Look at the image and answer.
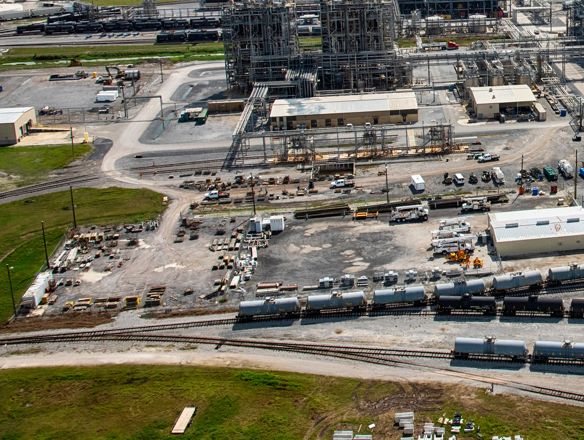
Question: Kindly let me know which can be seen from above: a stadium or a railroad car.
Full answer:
It is a railroad car that can be seen here.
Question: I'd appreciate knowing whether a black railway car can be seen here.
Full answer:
Yes, a black railway car appears in the view.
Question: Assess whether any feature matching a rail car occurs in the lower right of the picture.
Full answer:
Yes, a rail car is visible in the lower right of the picture.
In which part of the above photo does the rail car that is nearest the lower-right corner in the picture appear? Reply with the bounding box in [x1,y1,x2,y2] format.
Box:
[528,329,584,364]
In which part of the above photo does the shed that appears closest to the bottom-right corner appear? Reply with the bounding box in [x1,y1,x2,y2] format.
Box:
[486,204,584,257]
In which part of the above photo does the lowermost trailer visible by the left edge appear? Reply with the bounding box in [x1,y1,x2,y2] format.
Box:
[15,262,58,300]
